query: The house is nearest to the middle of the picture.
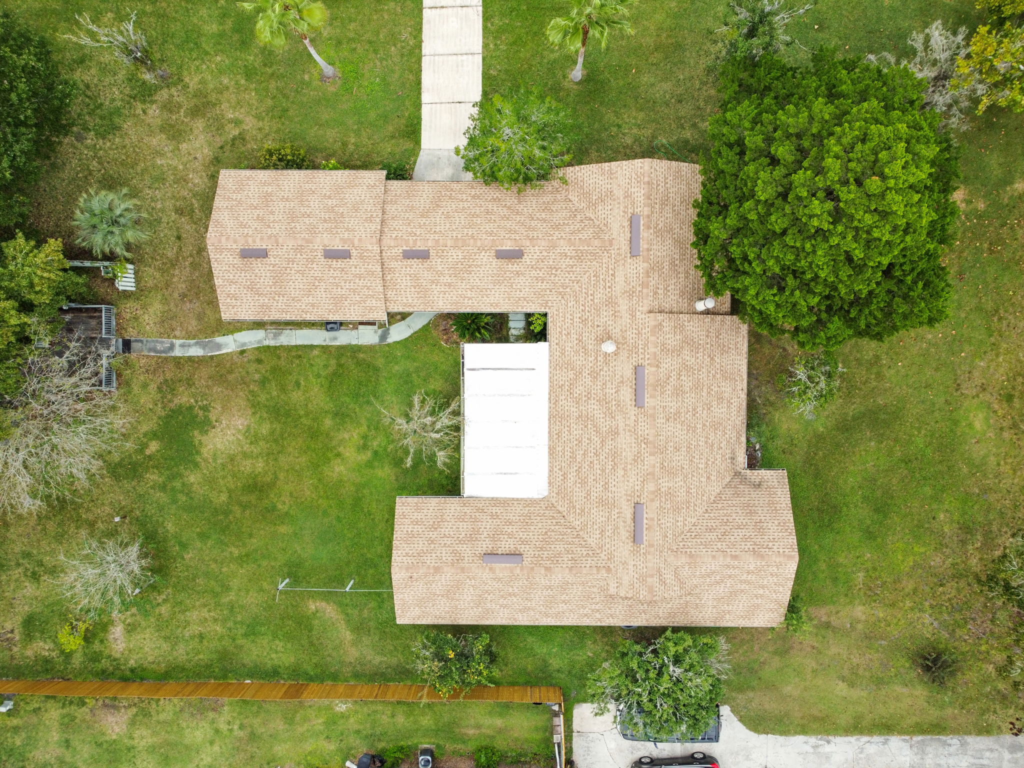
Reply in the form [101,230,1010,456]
[207,158,799,628]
